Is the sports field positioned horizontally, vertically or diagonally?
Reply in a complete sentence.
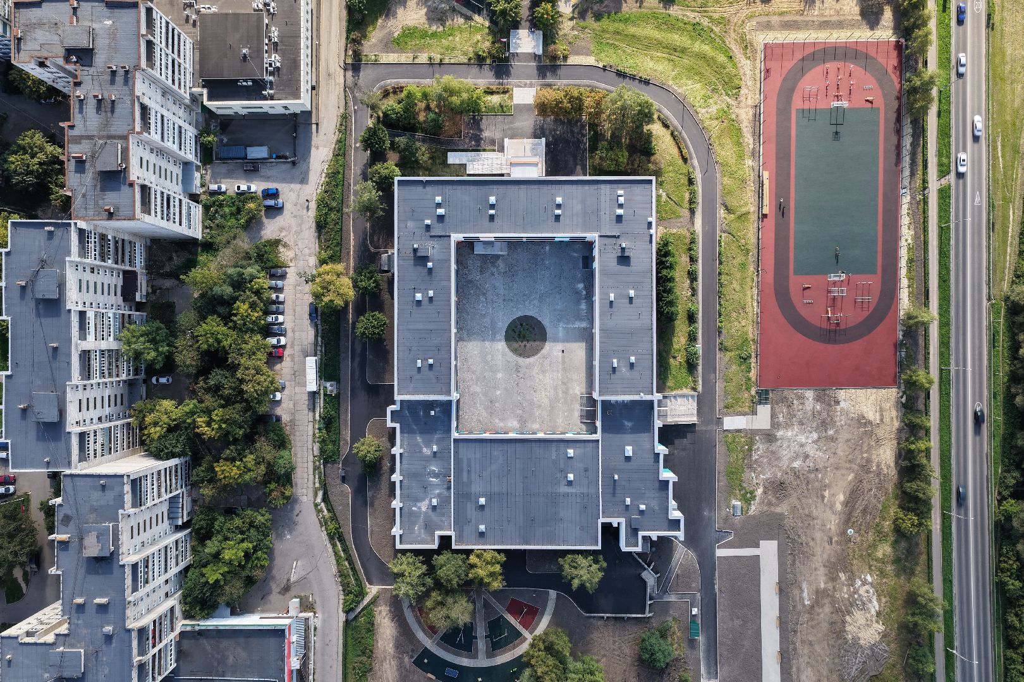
In this picture, the sports field is oriented vertically.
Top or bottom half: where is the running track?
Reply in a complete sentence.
The running track sits in the top half of the picture.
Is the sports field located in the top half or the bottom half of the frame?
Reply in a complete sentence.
The sports field sits in the top half of the picture.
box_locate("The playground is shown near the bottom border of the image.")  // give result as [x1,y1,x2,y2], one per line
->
[402,588,557,682]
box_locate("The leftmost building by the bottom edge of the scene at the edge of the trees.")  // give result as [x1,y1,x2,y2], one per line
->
[0,455,195,682]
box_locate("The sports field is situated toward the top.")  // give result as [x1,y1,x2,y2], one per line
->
[794,107,880,275]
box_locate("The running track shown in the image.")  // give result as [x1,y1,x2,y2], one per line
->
[774,46,899,344]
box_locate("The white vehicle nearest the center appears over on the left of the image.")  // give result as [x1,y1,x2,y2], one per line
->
[305,358,319,390]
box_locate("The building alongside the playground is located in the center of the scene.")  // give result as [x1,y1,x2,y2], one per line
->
[381,138,701,552]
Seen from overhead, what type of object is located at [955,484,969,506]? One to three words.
car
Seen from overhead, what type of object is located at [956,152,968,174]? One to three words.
vehicle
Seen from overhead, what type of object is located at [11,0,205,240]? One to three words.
building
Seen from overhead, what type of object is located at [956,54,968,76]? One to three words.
vehicle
